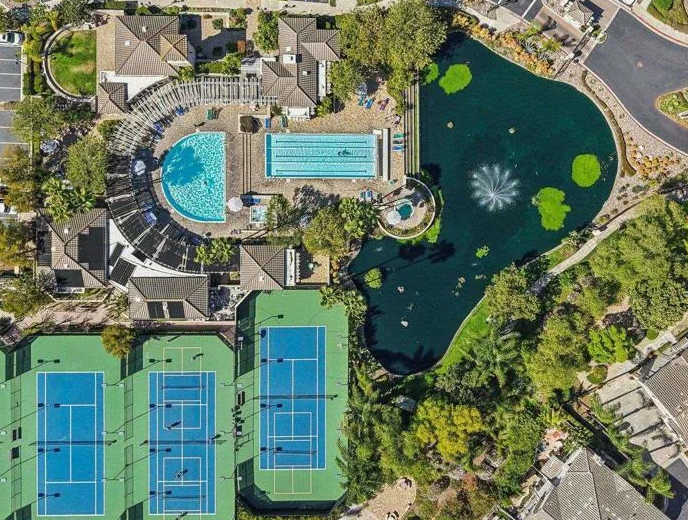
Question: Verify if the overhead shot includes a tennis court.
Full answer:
Yes, looking at the shot, I can spot a tennis court.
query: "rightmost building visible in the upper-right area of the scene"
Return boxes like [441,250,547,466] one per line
[567,1,593,26]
